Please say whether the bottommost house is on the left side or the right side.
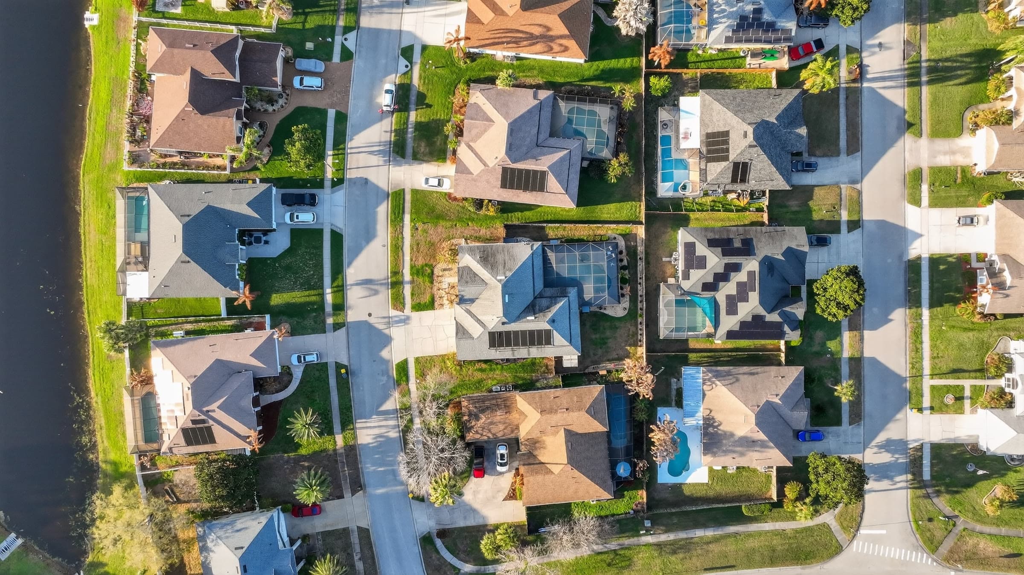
left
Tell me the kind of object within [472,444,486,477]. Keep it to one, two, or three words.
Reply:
vehicle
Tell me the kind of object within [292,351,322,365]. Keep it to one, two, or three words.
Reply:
car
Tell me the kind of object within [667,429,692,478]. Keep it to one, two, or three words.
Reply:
swimming pool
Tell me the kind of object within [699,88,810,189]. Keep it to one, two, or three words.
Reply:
house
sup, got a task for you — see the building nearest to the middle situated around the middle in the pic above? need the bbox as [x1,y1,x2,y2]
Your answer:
[455,243,581,359]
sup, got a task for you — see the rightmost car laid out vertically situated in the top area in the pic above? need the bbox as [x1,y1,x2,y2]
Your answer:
[381,84,397,114]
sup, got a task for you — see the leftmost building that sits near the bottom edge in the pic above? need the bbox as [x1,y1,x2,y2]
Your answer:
[196,507,306,575]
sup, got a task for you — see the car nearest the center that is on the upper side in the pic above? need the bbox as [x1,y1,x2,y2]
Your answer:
[421,176,451,190]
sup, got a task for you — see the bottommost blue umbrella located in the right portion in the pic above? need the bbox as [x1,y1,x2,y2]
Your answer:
[616,462,631,478]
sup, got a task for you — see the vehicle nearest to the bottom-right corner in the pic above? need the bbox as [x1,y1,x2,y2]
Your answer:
[796,429,822,442]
